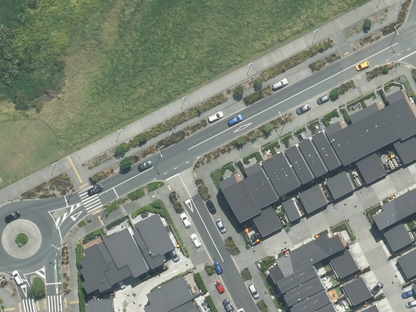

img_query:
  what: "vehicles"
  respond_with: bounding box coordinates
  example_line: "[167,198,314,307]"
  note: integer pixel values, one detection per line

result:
[222,298,233,312]
[228,114,243,126]
[180,212,192,228]
[88,184,102,194]
[401,290,415,298]
[214,280,225,294]
[296,104,311,114]
[208,111,223,122]
[216,219,226,233]
[371,281,382,295]
[190,233,202,247]
[6,211,20,222]
[272,78,288,90]
[205,198,217,214]
[138,160,152,170]
[316,94,330,104]
[212,261,223,275]
[354,60,370,70]
[248,284,258,298]
[170,250,179,264]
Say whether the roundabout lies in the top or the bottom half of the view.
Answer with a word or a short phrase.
bottom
